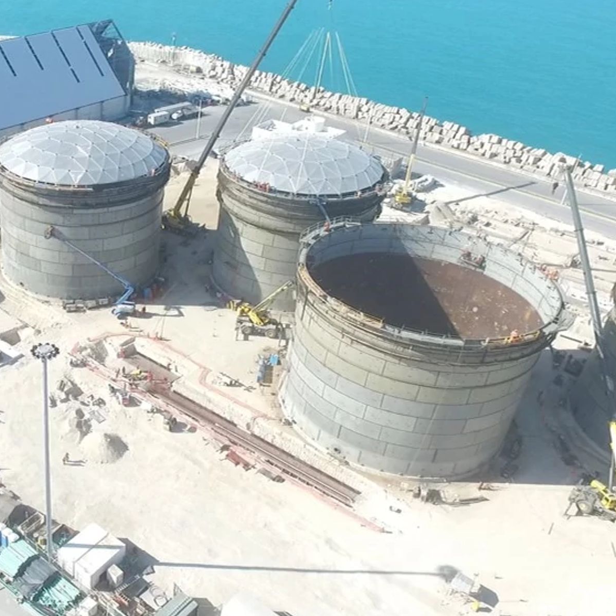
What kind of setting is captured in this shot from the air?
industrial area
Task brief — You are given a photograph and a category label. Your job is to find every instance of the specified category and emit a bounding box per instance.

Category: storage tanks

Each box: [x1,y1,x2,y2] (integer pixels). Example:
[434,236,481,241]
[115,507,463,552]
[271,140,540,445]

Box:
[207,130,390,317]
[560,261,616,462]
[0,118,173,304]
[277,217,583,483]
